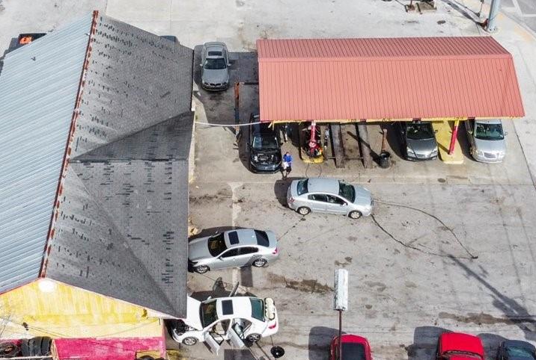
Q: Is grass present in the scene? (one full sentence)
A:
No, no grass is visible.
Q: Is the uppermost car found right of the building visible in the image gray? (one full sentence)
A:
Yes, the uppermost car found right of the building appears gray.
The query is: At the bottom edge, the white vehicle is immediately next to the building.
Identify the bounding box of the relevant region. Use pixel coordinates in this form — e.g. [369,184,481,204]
[172,277,277,349]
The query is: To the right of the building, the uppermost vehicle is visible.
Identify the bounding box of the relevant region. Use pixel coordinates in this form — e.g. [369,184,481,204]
[198,37,235,89]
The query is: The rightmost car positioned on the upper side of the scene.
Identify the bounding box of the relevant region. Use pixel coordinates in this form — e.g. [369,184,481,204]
[466,122,509,160]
